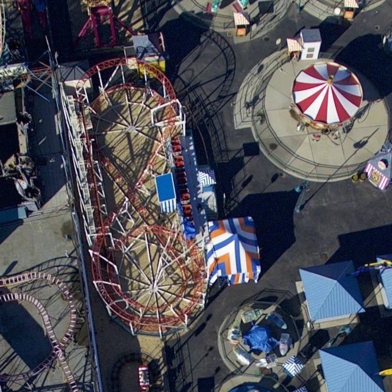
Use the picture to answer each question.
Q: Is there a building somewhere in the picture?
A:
Yes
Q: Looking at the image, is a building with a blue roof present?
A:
Yes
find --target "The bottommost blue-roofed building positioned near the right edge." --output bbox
[312,340,385,392]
